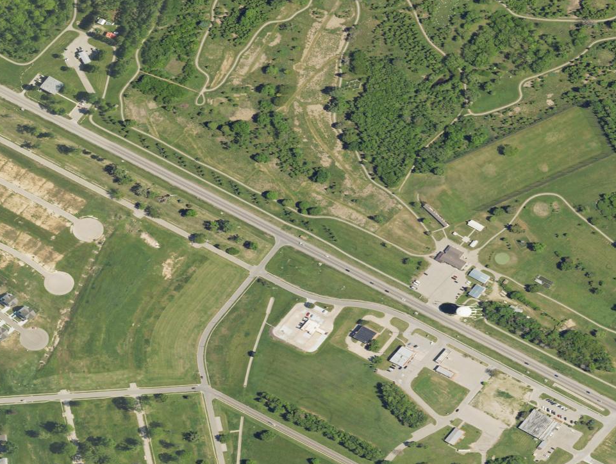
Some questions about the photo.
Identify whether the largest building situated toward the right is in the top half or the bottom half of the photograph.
bottom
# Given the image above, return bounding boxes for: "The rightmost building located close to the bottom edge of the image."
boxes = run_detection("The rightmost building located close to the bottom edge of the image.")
[518,409,561,449]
